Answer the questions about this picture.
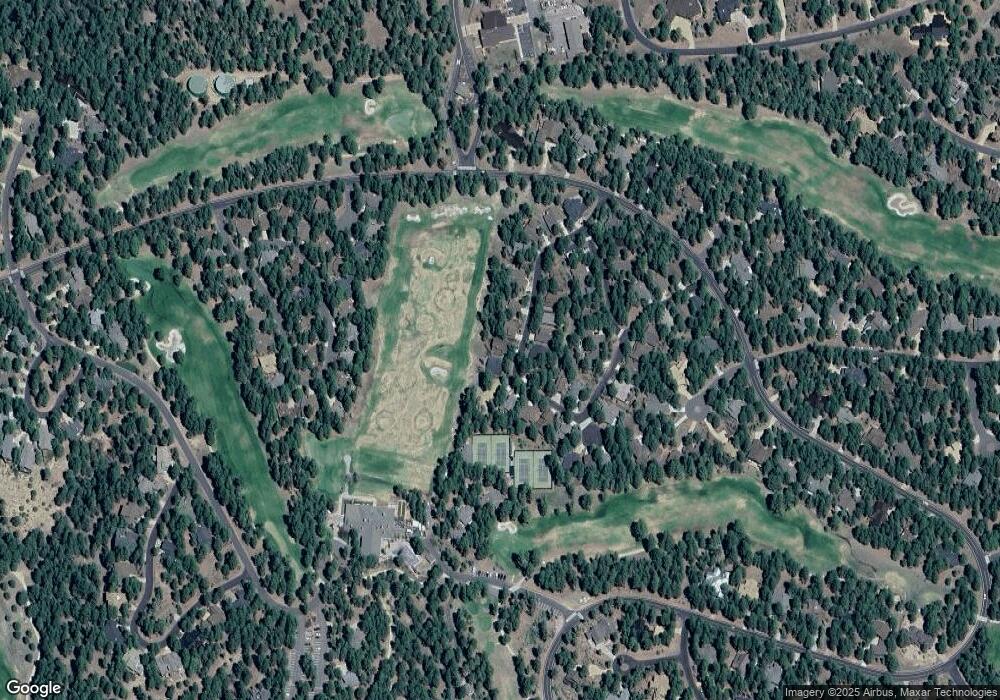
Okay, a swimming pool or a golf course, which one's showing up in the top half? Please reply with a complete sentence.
The feature located in the top half is a golf course.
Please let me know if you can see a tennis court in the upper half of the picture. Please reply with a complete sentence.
No, there is no tennis court in the upper half of the picture.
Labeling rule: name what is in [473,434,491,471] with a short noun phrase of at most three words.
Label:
tennis court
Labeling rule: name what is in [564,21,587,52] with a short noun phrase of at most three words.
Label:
building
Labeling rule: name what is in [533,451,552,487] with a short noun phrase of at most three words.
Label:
tennis court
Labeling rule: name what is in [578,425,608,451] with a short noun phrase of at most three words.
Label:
house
